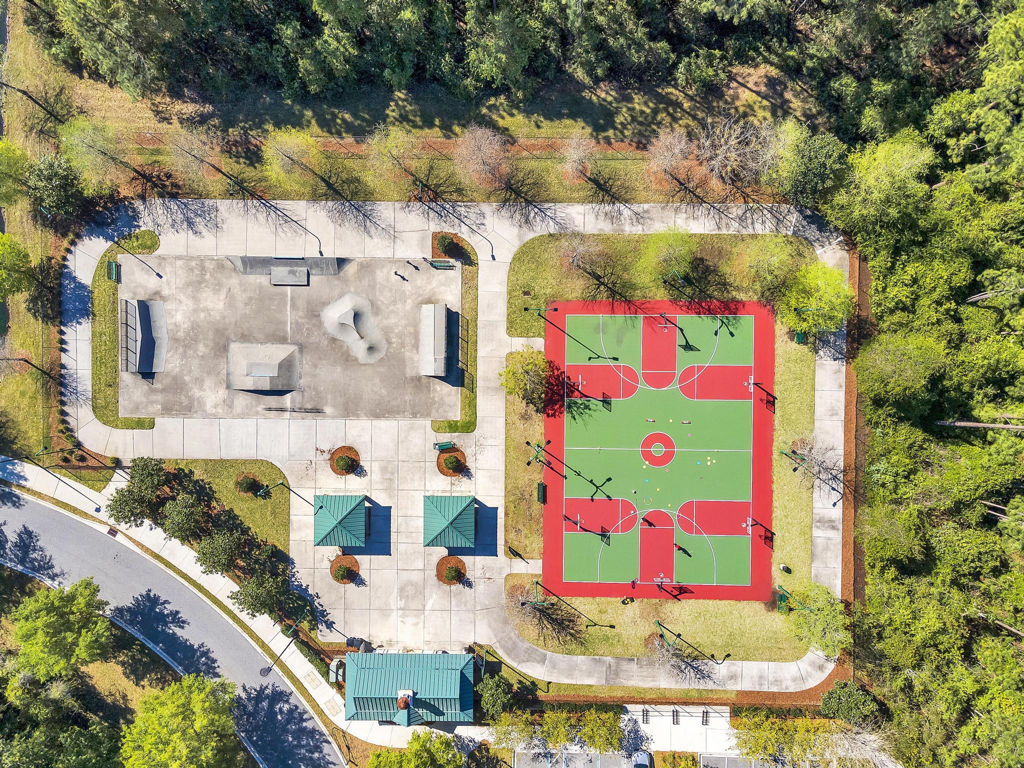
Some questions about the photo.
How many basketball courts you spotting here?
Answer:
1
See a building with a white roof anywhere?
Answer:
No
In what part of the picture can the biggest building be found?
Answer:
bottom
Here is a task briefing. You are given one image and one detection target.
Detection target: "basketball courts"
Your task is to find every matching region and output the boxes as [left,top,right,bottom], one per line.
[542,300,774,601]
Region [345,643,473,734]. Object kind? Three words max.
building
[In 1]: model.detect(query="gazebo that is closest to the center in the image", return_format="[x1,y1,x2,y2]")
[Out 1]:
[423,496,475,547]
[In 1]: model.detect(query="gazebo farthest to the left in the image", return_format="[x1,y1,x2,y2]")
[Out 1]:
[313,495,367,547]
